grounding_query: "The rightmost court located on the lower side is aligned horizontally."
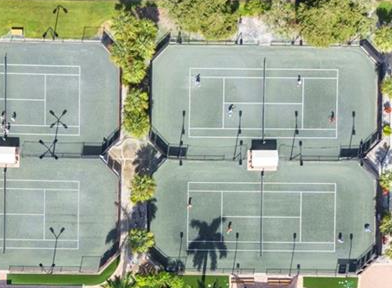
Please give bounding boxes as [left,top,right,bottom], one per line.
[150,159,376,270]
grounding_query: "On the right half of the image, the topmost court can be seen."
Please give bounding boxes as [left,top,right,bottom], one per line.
[150,45,377,158]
